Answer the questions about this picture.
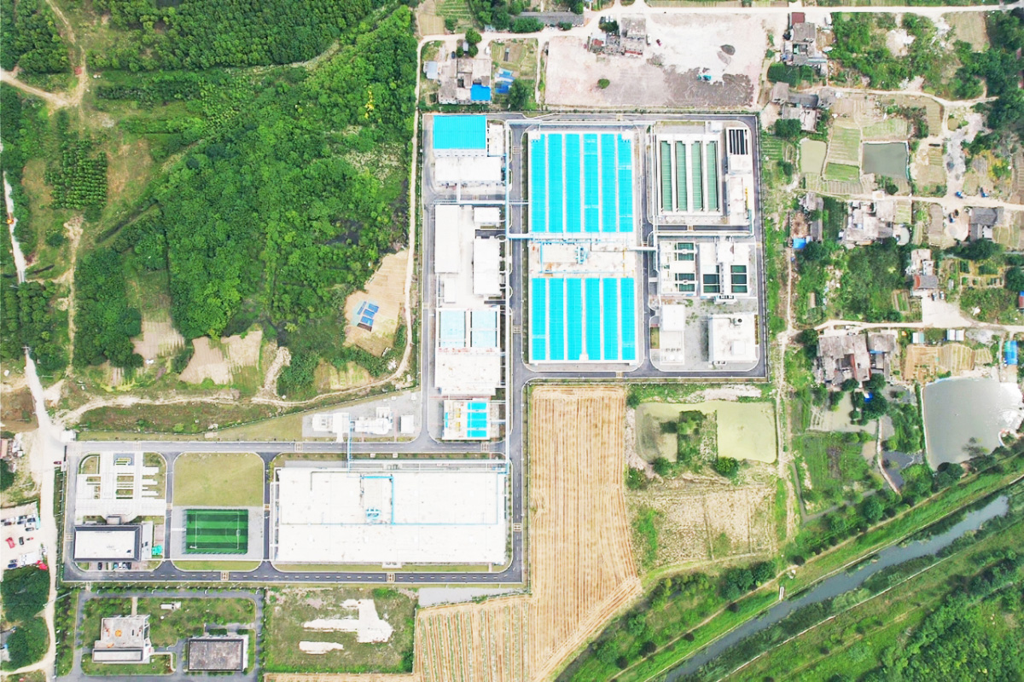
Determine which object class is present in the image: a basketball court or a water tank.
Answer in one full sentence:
The one in the frame is a water tank.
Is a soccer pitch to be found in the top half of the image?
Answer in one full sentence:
No, there's no soccer pitch to be seen in the top half of the image.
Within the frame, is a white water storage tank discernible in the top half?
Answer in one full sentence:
Yes, in the top half there is a white water storage tank.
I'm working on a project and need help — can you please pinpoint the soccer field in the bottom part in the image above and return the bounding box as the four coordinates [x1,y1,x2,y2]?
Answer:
[186,511,248,554]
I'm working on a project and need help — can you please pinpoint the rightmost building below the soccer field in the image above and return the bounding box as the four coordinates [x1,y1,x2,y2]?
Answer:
[188,635,247,672]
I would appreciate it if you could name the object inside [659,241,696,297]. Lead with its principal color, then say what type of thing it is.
white water tank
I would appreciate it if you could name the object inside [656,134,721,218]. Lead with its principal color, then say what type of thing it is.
white water tank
